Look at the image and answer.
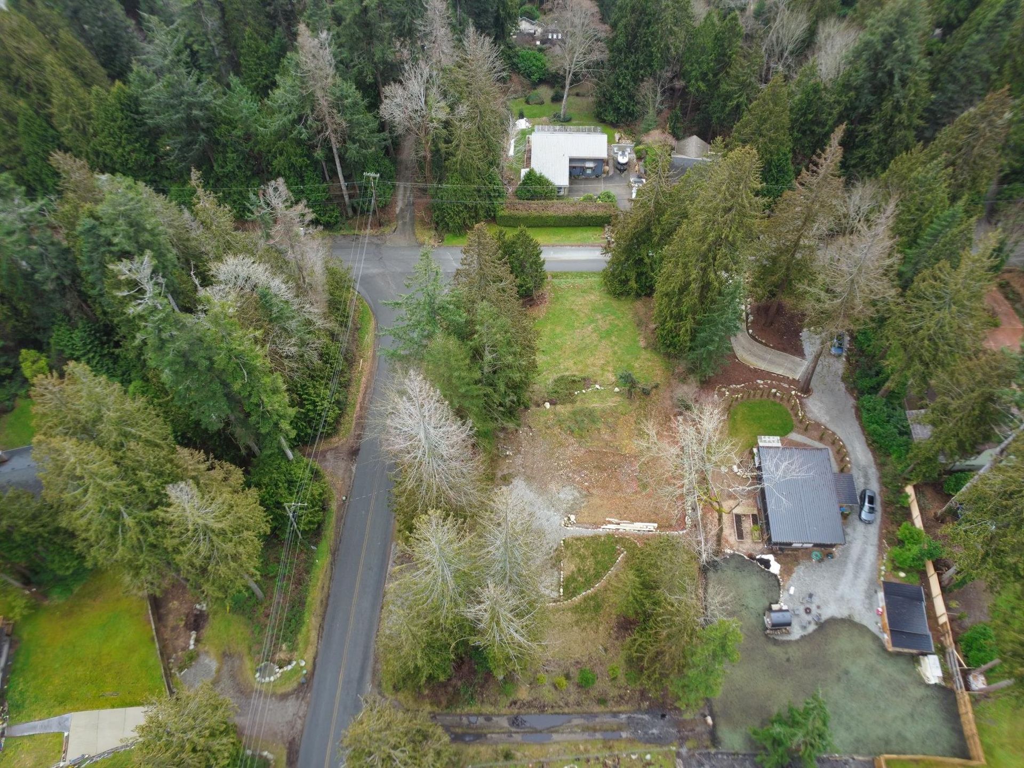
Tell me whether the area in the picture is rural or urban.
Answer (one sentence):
The area is rural.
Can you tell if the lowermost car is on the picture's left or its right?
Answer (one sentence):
You can find the lowermost car on the right side of the picture.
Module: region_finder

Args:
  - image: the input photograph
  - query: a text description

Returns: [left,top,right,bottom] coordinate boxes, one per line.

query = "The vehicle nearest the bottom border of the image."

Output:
[857,489,879,526]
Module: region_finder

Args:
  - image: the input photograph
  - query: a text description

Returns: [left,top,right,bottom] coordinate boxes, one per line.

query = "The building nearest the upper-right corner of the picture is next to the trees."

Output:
[676,135,710,161]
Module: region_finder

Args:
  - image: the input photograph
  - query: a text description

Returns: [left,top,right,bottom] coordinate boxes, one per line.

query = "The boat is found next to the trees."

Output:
[615,139,630,169]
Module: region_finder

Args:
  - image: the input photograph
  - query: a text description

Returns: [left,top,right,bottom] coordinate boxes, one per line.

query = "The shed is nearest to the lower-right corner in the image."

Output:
[875,581,936,655]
